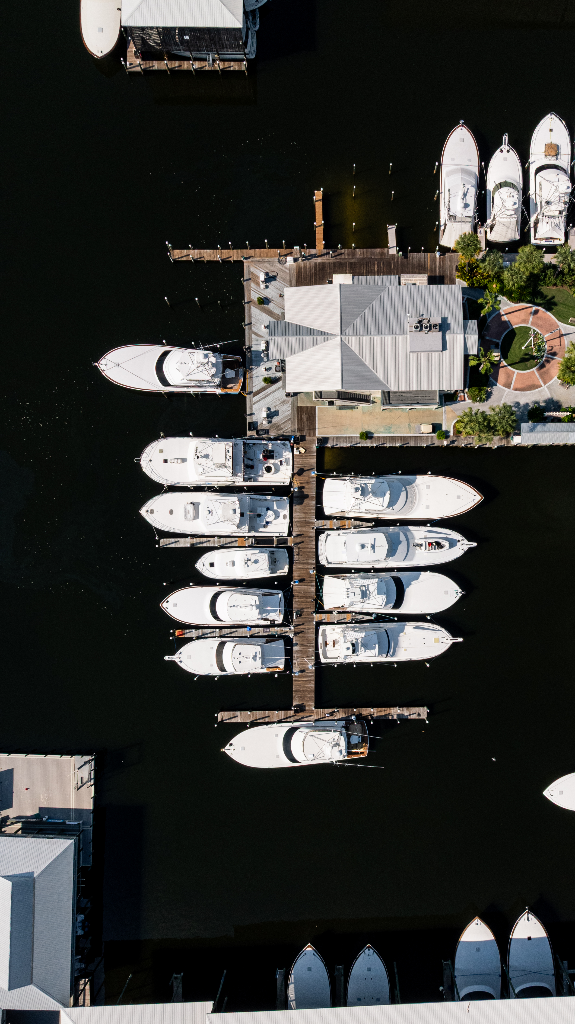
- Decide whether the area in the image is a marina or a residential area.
marina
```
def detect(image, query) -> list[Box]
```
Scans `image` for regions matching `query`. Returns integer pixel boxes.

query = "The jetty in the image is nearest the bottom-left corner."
[72,977,92,1006]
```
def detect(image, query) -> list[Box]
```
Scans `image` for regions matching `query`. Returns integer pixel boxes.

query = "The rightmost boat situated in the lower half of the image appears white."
[543,771,575,813]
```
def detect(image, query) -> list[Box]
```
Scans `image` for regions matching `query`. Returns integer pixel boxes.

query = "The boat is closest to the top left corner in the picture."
[81,0,121,61]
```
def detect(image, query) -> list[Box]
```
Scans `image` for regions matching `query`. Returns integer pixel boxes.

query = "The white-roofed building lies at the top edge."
[120,0,251,69]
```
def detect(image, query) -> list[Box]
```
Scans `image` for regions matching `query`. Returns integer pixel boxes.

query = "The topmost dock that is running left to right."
[127,61,247,76]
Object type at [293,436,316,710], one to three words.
pier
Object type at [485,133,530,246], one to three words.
boat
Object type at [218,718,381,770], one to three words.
boat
